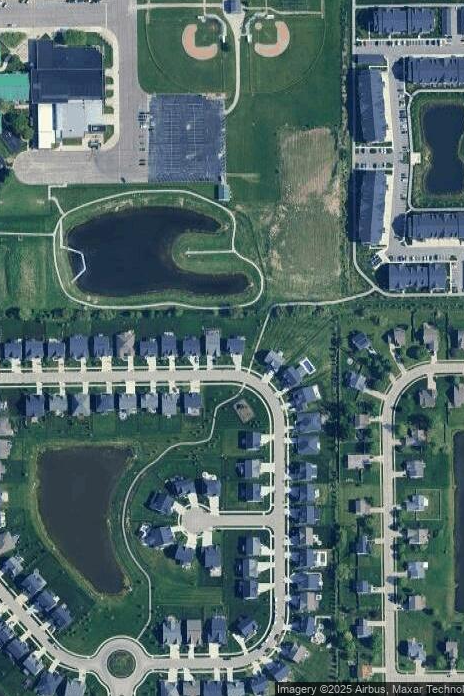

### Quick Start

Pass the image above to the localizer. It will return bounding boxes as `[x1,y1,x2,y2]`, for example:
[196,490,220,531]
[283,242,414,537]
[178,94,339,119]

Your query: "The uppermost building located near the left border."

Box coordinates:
[0,39,105,149]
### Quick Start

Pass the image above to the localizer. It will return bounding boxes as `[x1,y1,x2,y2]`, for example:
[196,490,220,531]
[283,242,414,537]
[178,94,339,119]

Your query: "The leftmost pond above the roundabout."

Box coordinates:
[39,446,132,595]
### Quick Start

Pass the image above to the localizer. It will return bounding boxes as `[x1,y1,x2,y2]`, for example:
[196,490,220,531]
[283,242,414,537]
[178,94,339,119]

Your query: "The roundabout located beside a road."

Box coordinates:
[95,638,149,692]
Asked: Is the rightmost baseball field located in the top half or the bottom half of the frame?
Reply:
top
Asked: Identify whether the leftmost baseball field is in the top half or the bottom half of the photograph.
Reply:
top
